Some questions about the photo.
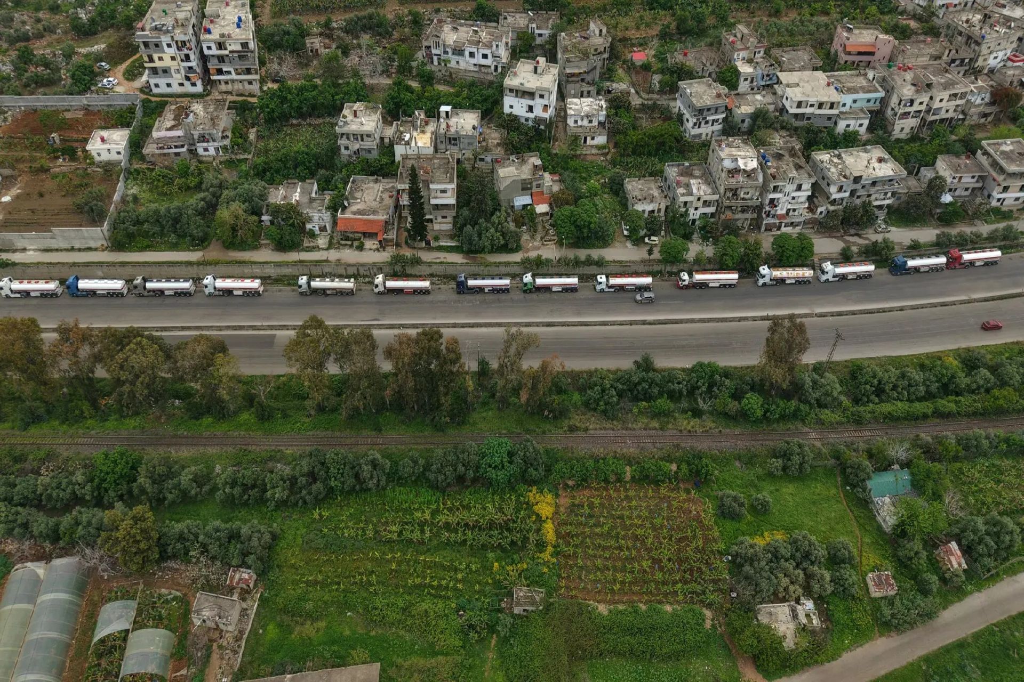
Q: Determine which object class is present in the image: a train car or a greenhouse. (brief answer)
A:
greenhouse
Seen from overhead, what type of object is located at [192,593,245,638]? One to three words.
house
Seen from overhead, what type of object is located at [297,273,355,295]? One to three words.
truck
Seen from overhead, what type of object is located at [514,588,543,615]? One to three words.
shed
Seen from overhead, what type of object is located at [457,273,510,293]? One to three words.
vehicle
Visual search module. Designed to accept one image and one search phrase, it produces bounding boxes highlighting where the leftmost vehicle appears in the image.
[0,275,62,297]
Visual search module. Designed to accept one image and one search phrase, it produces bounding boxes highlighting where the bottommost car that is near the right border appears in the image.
[979,318,1004,330]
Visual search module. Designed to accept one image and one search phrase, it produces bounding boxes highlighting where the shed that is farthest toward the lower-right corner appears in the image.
[933,542,967,578]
